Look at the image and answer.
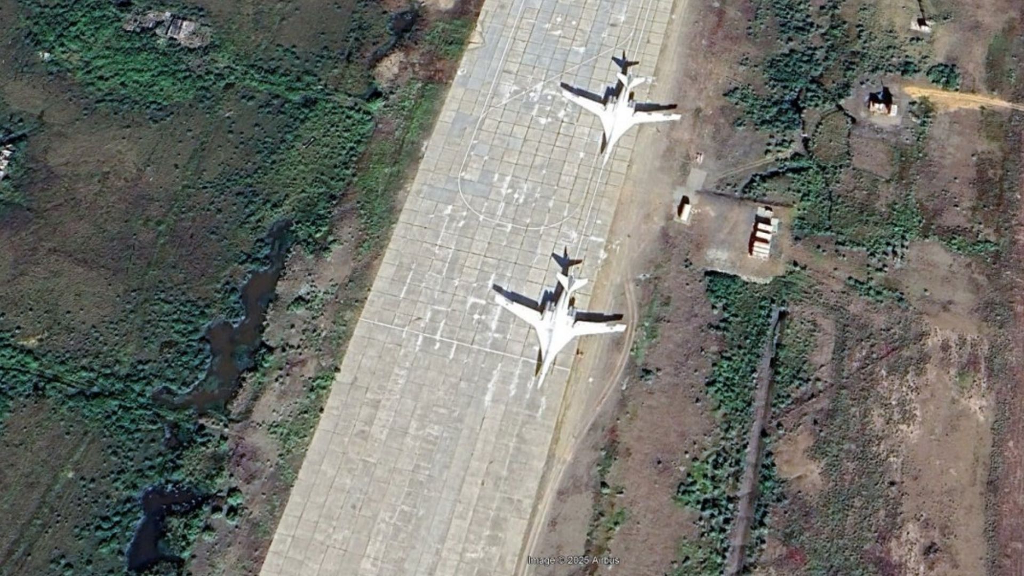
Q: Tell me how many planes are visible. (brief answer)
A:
2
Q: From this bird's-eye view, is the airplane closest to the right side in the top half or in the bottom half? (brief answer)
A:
top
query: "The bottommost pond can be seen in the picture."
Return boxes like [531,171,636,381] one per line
[129,488,210,569]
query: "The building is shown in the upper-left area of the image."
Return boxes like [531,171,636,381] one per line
[126,12,213,48]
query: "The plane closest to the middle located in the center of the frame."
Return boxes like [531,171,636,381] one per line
[495,268,627,390]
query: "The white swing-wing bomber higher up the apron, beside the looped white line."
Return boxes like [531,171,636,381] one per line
[564,66,682,163]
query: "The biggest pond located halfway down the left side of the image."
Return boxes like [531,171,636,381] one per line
[158,221,293,413]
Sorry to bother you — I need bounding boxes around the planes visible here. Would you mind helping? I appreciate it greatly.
[564,66,682,163]
[495,268,627,390]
